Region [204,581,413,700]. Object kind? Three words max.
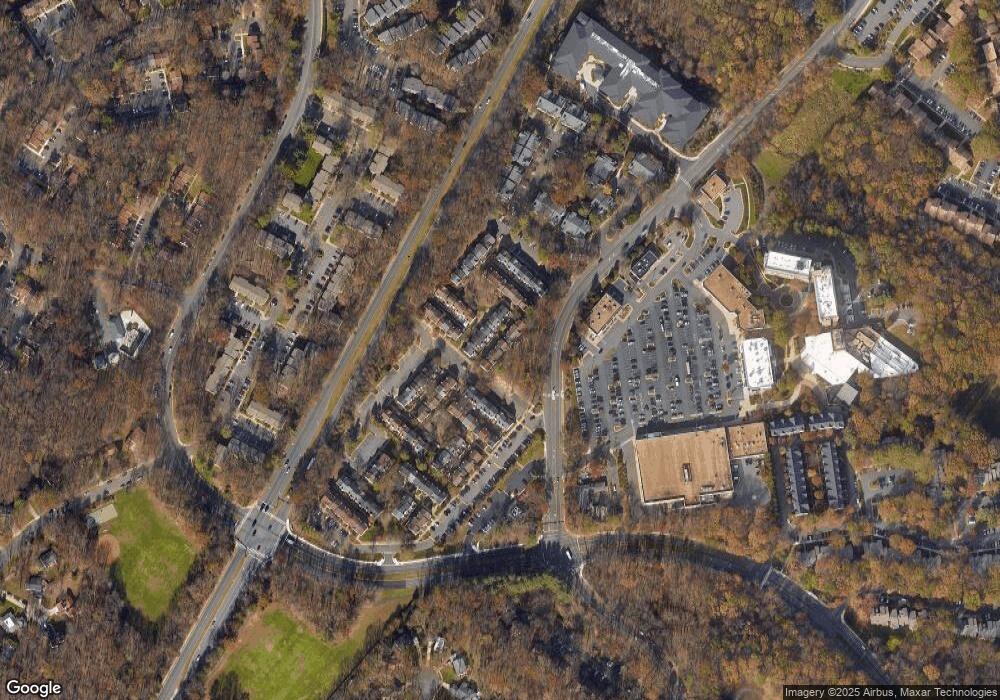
sports field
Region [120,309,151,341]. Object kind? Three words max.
building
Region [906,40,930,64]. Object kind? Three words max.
house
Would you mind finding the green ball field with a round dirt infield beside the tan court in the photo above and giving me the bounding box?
[93,485,193,618]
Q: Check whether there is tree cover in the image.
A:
Yes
